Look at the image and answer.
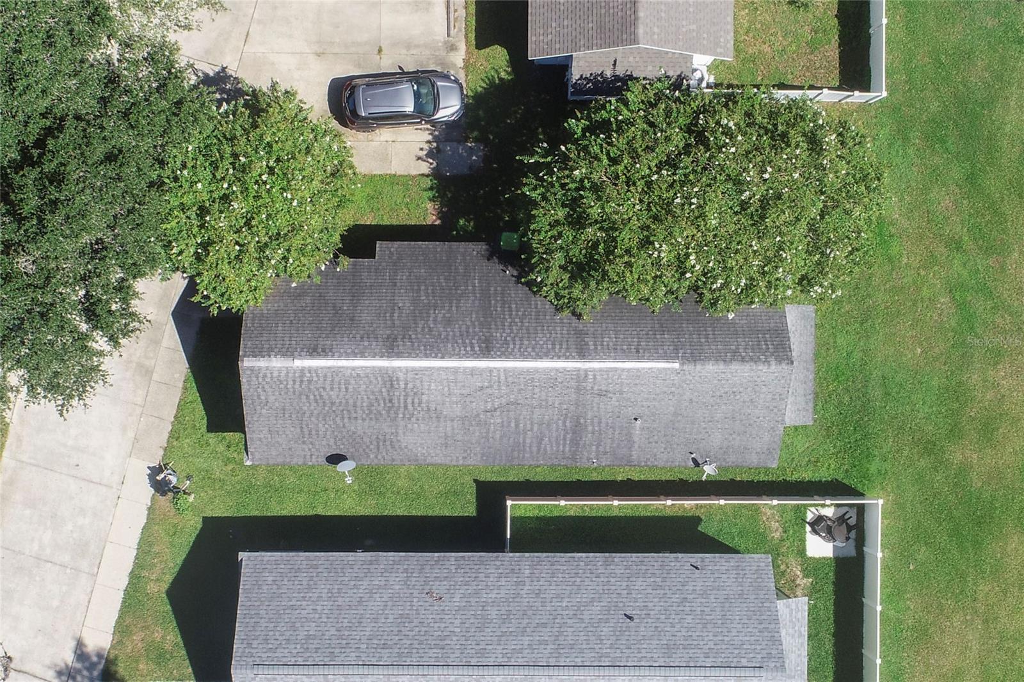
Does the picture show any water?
No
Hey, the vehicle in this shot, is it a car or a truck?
car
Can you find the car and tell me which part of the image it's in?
top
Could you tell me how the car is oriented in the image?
from left to right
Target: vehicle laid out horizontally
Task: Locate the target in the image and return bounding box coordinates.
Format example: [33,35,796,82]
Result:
[341,68,467,134]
